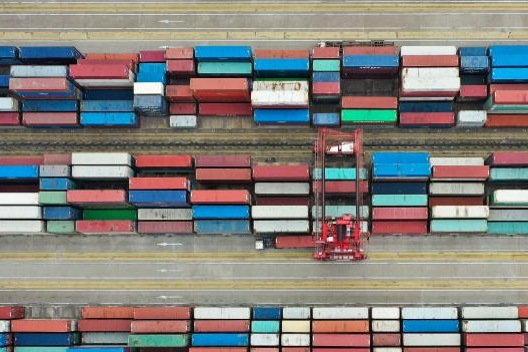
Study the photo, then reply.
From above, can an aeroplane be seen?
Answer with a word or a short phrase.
No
